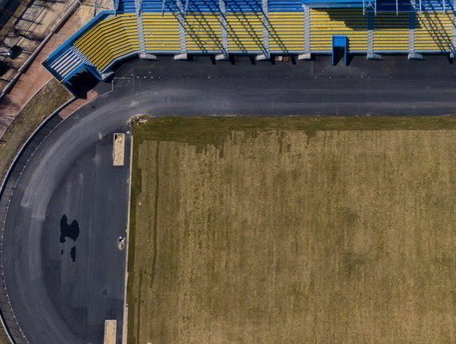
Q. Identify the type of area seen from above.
sports ground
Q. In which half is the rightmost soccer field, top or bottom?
bottom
